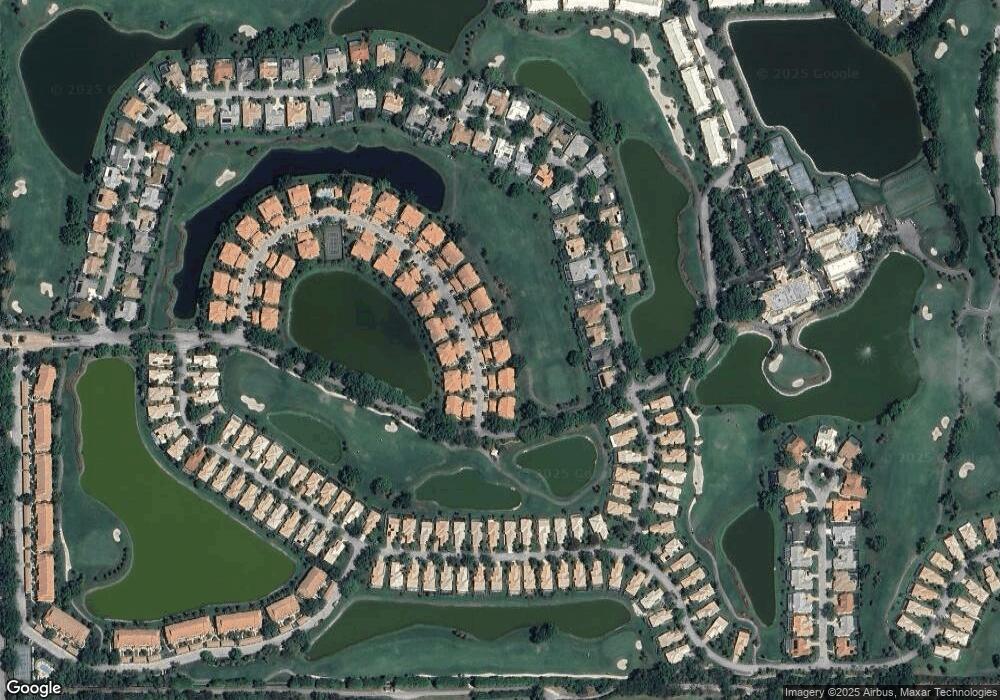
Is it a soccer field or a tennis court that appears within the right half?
tennis court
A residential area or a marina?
residential area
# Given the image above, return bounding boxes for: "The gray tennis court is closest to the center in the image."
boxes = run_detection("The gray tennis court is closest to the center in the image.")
[324,226,343,260]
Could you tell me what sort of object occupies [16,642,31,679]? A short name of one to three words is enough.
tennis court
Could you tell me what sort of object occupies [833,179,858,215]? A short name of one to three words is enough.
tennis court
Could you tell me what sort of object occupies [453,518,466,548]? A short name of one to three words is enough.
house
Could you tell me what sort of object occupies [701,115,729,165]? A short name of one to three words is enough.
building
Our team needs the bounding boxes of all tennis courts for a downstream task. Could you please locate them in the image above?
[16,642,31,679]
[788,160,814,194]
[804,190,822,212]
[823,202,844,221]
[324,226,343,260]
[817,185,838,206]
[833,179,858,215]
[771,137,794,170]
